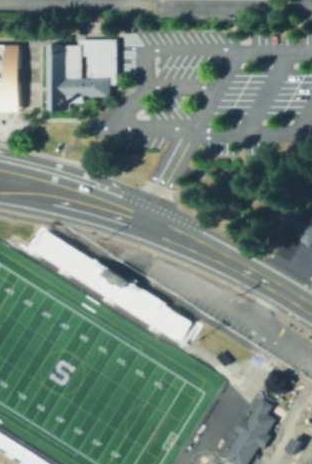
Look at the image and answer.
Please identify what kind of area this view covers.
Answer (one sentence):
The area seen from above is a sports ground.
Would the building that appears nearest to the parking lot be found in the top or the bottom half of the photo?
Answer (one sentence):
The top half of the photo is where the building that appears nearest to the parking lot is.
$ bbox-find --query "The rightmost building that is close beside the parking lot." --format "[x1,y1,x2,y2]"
[46,39,118,111]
